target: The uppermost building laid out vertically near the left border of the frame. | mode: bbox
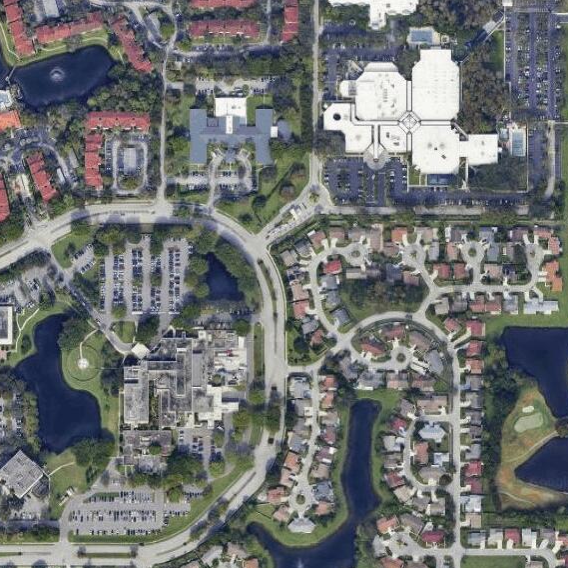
[3,0,32,56]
